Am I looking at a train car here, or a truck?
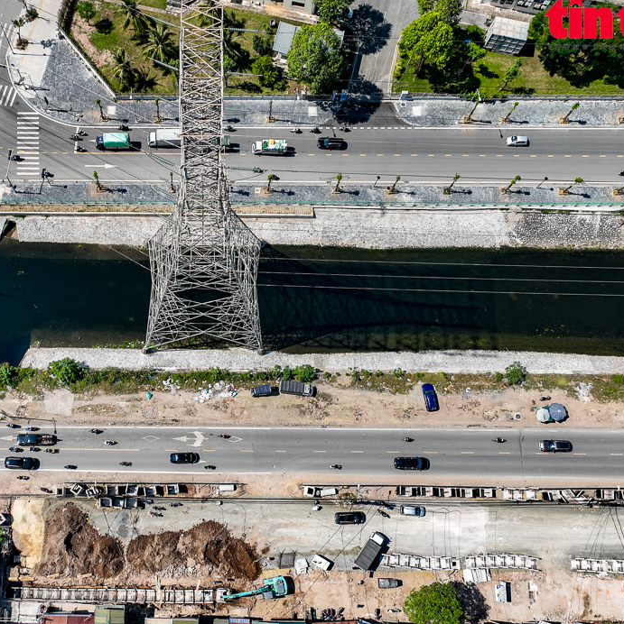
truck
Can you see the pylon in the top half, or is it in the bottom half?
top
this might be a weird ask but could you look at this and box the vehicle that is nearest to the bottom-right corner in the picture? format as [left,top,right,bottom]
[538,439,572,453]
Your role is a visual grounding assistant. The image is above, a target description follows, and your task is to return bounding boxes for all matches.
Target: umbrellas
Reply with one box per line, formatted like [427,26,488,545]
[547,403,566,422]
[533,408,548,422]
